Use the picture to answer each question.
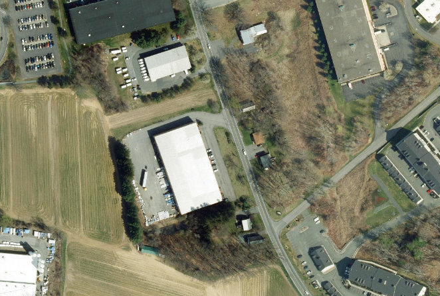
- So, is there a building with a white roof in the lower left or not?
Yes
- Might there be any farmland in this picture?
Yes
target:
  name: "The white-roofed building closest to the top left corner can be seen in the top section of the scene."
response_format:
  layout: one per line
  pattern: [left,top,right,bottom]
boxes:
[145,46,191,82]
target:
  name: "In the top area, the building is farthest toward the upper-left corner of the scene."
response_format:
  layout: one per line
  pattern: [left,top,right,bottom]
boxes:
[70,0,175,46]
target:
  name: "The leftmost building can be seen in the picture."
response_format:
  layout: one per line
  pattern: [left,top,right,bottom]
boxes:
[0,244,38,296]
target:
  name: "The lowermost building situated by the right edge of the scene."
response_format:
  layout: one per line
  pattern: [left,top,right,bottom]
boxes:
[349,261,427,296]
